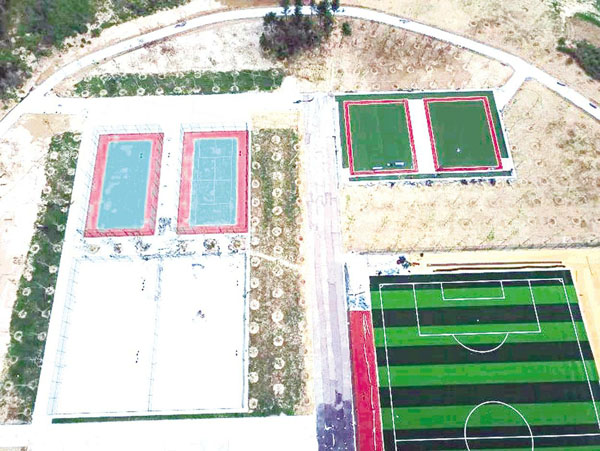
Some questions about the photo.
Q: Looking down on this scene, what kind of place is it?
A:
sports ground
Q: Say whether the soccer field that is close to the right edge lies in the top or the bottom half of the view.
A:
bottom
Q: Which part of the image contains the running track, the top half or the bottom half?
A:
bottom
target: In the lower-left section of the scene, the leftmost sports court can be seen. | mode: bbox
[51,257,158,415]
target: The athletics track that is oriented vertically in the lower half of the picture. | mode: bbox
[343,308,385,451]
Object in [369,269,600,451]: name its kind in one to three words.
soccer field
